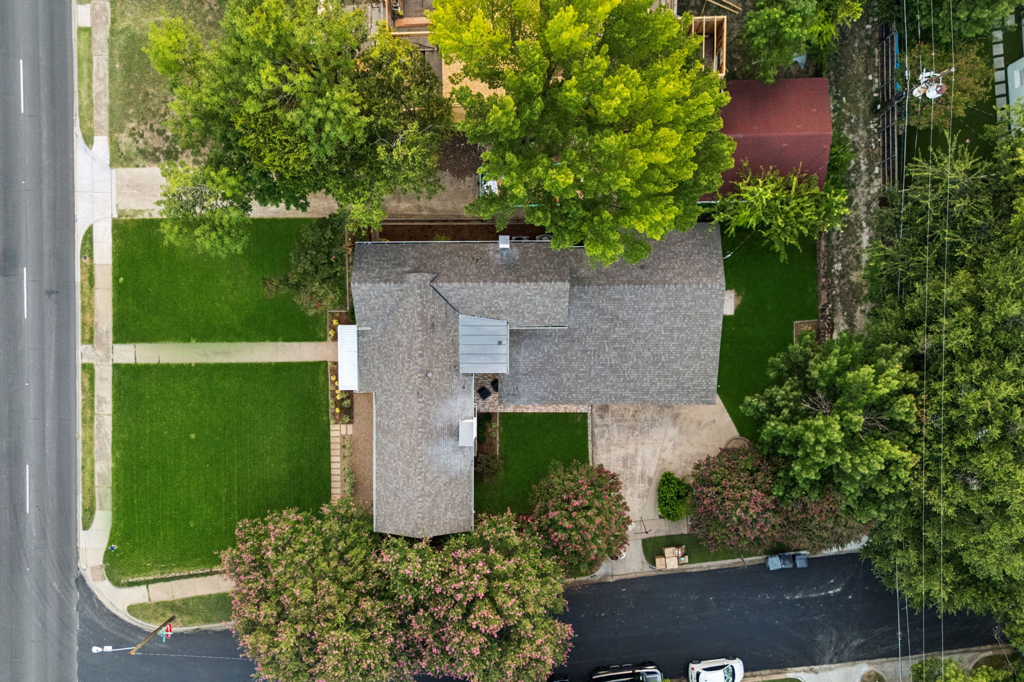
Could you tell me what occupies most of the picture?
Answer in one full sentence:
The largest share of the image is taken up by trees.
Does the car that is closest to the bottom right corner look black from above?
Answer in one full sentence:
No, the color of the car that is closest to the bottom right corner is white.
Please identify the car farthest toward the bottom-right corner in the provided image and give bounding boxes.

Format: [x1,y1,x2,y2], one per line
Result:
[688,657,745,682]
